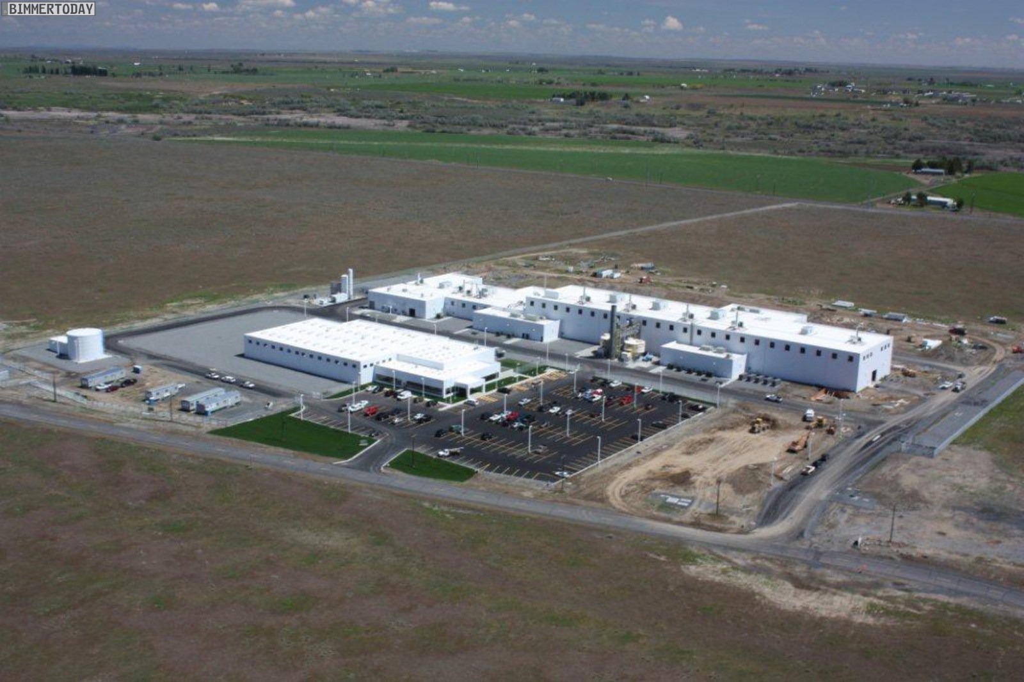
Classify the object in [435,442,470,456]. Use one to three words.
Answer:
vehicle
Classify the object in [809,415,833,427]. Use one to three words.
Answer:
vehicle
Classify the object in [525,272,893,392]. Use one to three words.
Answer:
building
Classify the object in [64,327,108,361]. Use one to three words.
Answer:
water tank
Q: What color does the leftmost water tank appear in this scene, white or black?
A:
white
